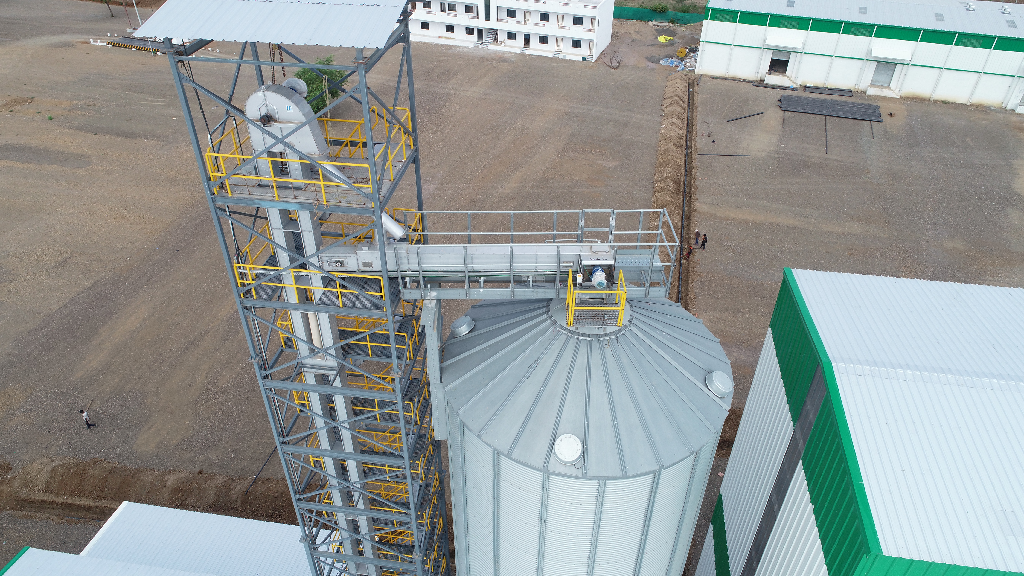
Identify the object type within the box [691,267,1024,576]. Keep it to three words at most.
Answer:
building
